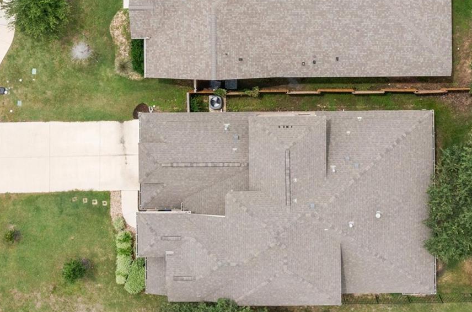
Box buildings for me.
[130,0,452,79]
[135,109,438,306]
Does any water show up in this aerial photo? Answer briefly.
No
